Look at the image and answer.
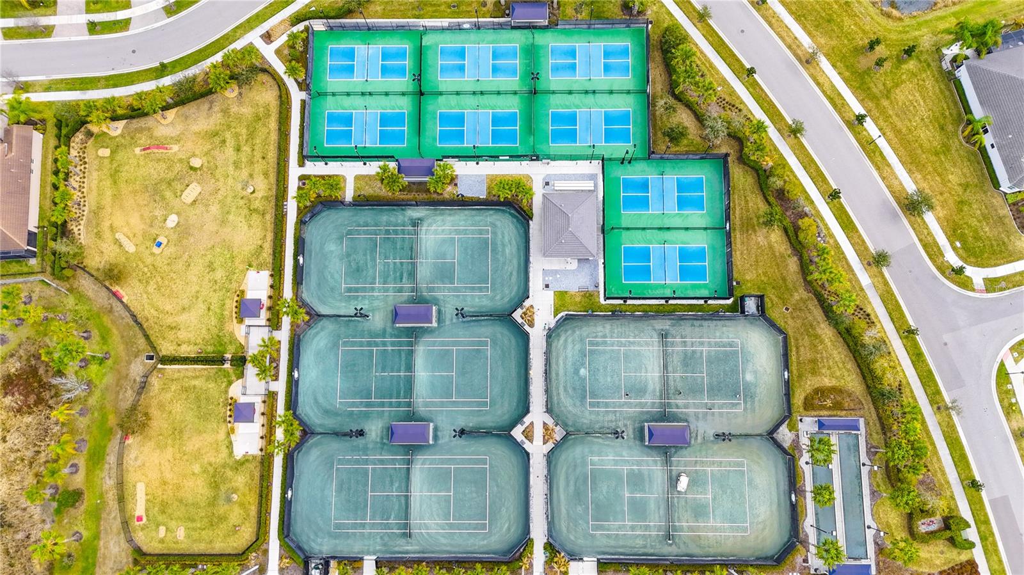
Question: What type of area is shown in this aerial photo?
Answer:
sports ground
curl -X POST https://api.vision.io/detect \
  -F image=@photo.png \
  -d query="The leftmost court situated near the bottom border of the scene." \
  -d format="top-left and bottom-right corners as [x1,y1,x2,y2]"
[291,432,529,559]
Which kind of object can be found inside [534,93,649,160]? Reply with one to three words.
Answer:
sports court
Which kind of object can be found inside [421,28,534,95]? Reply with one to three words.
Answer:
sports court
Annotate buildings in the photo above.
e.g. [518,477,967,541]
[0,125,41,256]
[957,48,1024,190]
[542,191,598,259]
